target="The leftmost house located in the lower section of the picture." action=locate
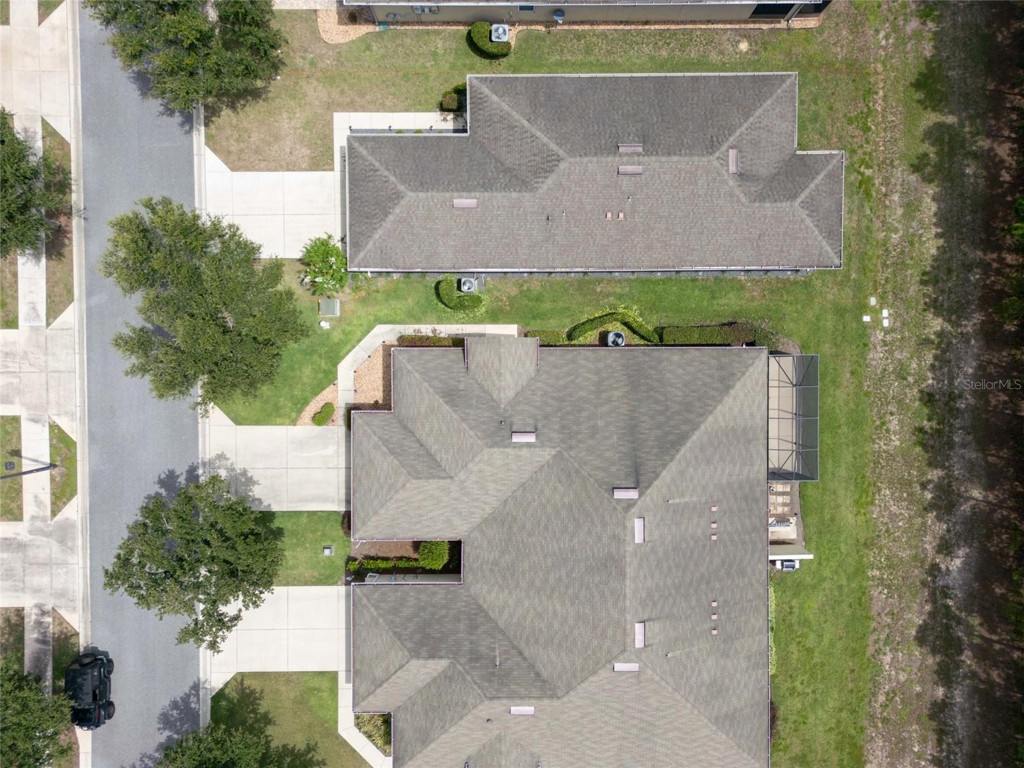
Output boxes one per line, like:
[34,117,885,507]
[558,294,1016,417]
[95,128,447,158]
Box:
[352,337,768,768]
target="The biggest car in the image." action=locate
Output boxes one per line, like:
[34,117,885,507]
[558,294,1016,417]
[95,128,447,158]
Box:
[67,648,114,730]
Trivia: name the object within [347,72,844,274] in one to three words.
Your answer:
house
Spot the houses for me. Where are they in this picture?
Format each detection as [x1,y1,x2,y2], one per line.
[352,337,768,768]
[347,72,844,274]
[343,0,836,23]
